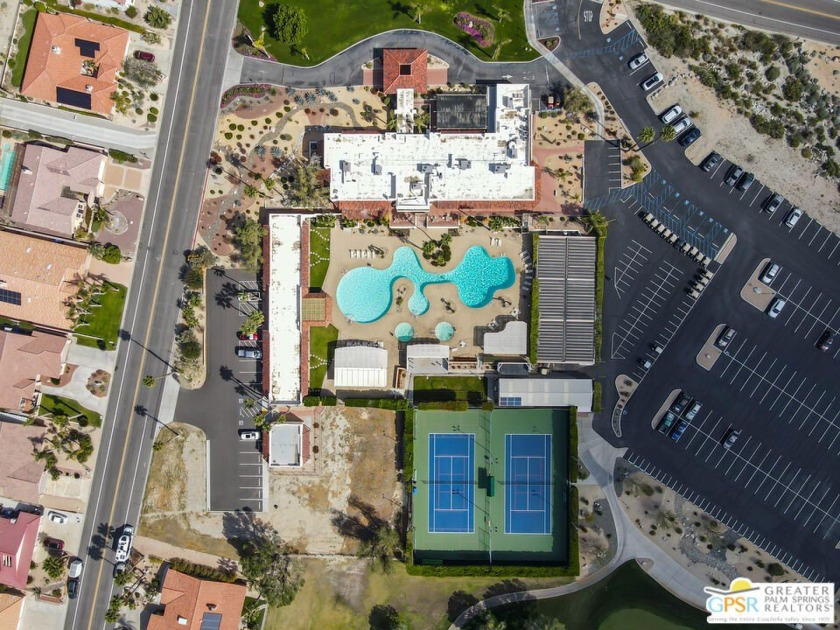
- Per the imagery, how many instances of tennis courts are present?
two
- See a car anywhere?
Yes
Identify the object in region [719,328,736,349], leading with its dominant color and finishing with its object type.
gray car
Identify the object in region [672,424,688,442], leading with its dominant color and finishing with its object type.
blue car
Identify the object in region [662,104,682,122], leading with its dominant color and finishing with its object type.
white car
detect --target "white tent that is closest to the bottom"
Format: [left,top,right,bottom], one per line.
[332,350,387,386]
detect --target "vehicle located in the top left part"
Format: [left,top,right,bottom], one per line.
[135,49,156,62]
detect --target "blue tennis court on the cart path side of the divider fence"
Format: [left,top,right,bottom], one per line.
[490,408,568,562]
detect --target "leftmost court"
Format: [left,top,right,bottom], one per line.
[413,408,490,562]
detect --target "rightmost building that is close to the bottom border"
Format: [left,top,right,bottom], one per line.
[146,567,249,630]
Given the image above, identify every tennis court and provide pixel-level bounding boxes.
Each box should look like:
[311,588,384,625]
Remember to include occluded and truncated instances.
[413,408,490,562]
[490,408,568,562]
